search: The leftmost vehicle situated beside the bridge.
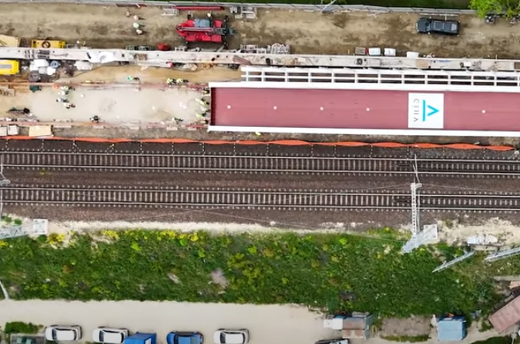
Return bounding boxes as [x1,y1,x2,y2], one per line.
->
[177,10,240,47]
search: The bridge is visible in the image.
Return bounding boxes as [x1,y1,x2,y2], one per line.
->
[207,67,520,136]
